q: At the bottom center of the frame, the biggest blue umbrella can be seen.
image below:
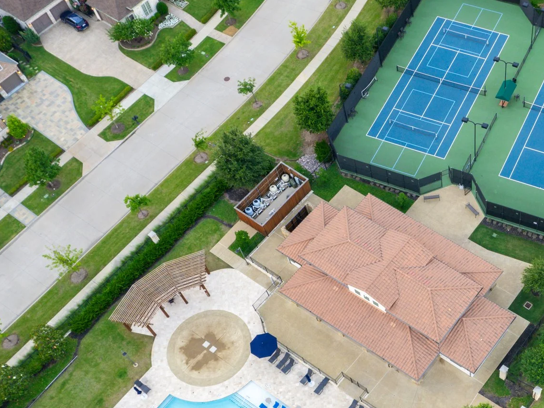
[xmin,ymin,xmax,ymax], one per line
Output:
[250,333,279,360]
